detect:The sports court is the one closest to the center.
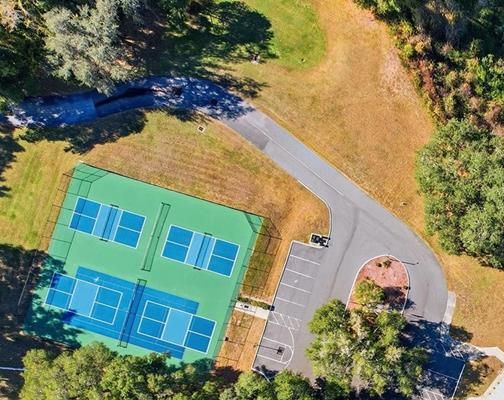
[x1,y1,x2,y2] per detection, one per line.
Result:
[161,224,240,277]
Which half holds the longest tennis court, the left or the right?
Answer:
left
